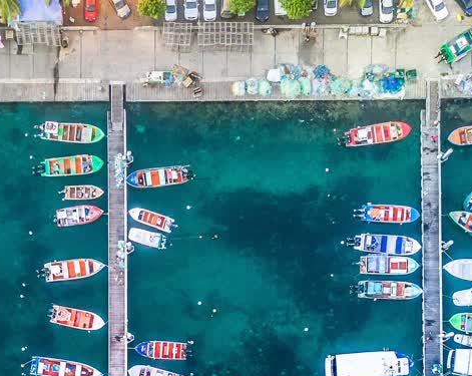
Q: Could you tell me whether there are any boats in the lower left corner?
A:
Yes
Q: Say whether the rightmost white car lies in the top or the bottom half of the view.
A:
top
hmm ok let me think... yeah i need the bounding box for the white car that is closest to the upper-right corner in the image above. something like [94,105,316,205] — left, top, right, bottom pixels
[425,0,450,21]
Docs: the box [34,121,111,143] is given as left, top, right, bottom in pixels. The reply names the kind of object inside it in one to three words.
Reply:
boat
